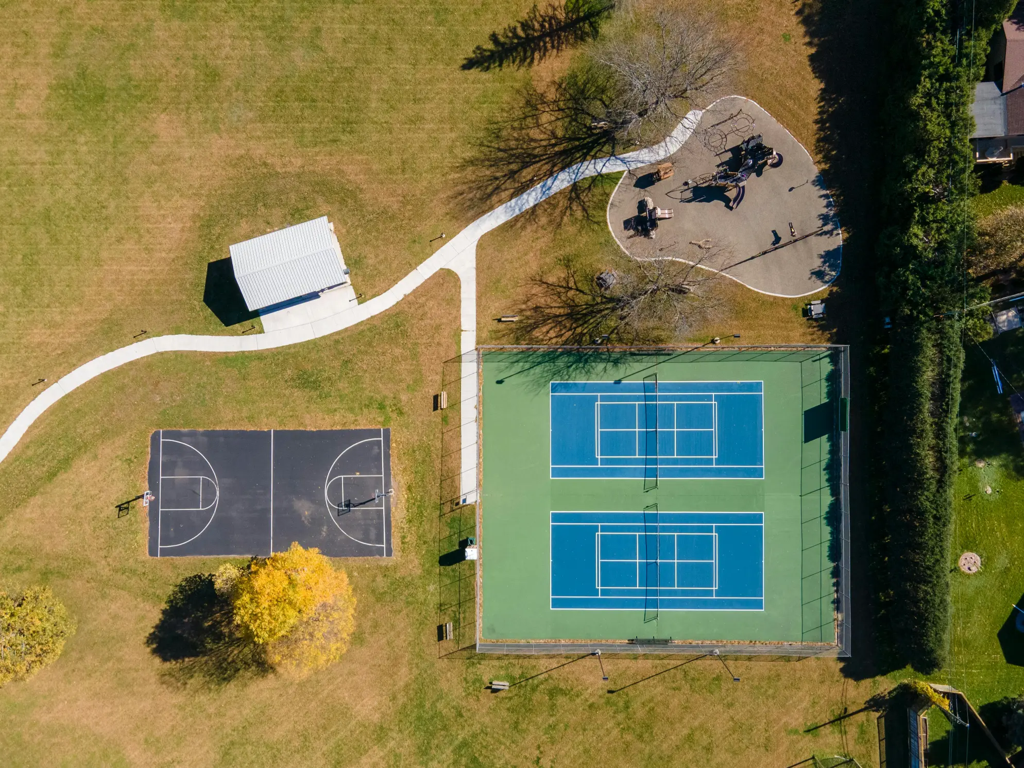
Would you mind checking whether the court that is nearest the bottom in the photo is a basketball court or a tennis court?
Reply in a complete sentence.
It turns out the court that is nearest the bottom is a tennis court.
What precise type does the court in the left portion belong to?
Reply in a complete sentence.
Looking closely, the court in the left portion is a basketball court.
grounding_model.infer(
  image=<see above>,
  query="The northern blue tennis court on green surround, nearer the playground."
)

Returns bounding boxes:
[482,350,832,495]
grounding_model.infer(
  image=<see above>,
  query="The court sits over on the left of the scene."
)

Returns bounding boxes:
[148,428,393,557]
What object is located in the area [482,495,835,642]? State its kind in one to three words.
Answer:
tennis court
